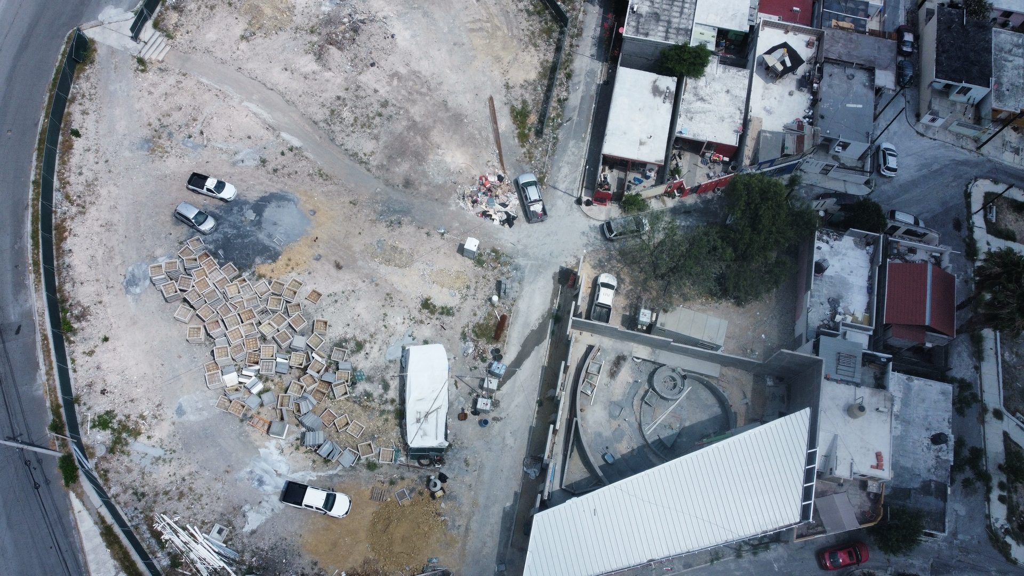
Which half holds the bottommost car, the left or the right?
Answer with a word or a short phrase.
right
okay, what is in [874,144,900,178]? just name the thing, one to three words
car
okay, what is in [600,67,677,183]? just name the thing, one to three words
house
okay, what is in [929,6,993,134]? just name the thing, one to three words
house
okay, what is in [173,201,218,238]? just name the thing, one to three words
car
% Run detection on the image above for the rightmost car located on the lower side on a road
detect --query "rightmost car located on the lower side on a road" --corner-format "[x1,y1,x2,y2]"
[813,540,871,573]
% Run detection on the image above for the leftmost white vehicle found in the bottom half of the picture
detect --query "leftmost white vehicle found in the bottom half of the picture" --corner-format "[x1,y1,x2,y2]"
[278,479,351,519]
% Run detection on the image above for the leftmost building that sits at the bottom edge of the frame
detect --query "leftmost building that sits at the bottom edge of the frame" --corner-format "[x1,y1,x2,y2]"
[520,408,818,576]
